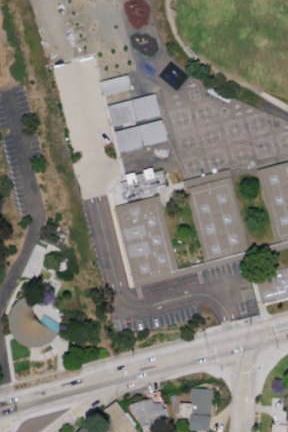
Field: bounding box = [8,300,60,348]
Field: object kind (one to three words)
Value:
building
